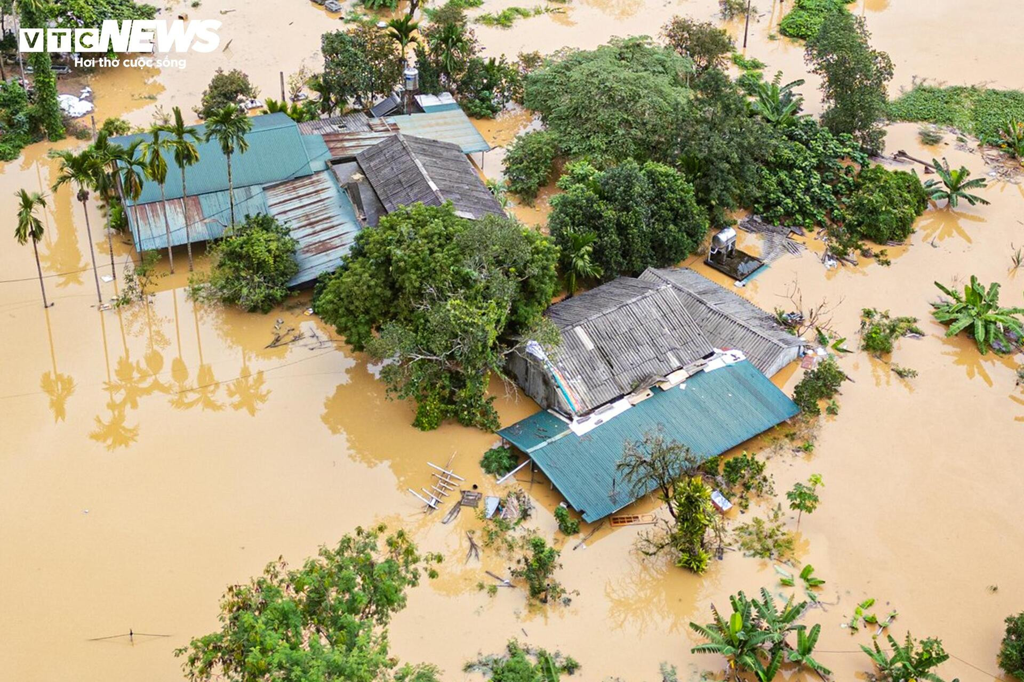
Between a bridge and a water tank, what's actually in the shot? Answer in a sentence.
This aerial view contains a water tank.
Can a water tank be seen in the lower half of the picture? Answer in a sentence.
No, no water tank is visible in the lower half of the picture.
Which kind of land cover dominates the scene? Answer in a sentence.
Most of the picture is covered by water.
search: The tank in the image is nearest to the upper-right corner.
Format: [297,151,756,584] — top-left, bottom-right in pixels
[707,222,743,259]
